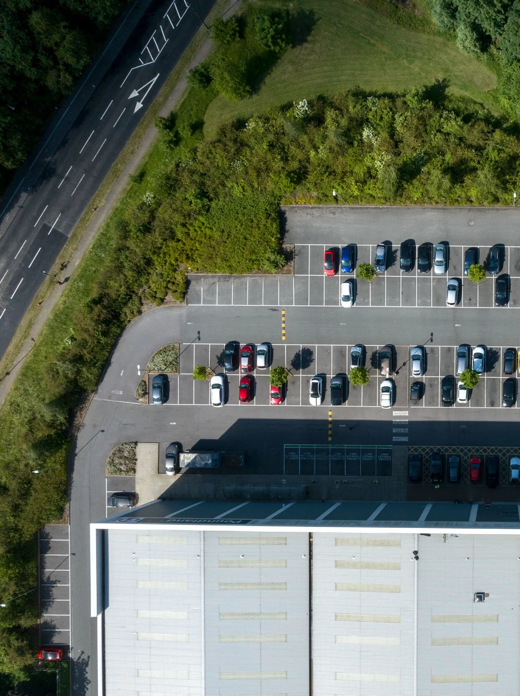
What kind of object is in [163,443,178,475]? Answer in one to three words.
car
